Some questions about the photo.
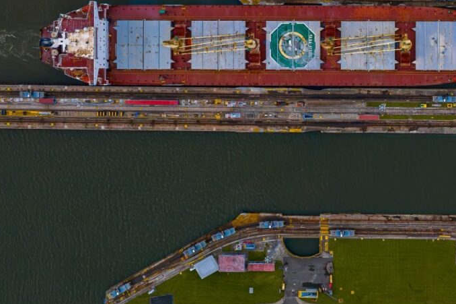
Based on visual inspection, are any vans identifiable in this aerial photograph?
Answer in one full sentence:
No, I can see no van in this picture.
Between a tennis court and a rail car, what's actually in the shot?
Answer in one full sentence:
It is a rail car that can be seen here.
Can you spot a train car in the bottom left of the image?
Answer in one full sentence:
Yes, a train car is visible in the bottom left of the image.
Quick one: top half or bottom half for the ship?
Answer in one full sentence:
You can find the ship in the top half.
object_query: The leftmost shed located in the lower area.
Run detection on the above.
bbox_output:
[195,255,219,278]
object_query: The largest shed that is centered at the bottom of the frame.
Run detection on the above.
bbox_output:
[218,254,246,273]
